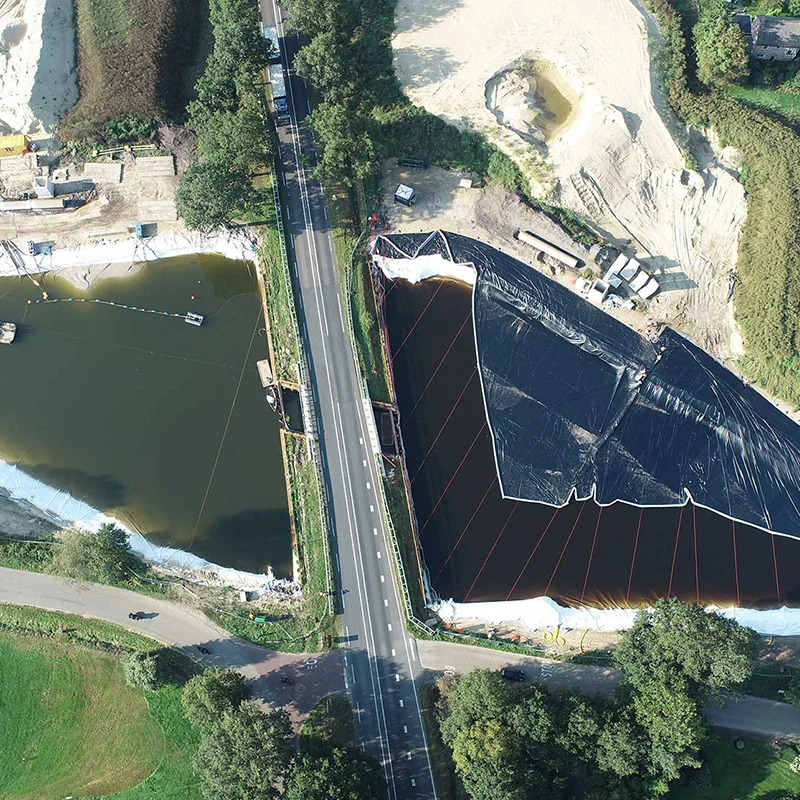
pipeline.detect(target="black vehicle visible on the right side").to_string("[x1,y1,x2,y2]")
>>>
[500,667,524,682]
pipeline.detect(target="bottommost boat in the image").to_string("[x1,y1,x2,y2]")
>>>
[265,386,277,411]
